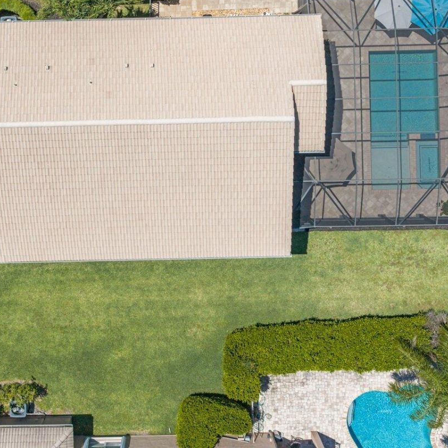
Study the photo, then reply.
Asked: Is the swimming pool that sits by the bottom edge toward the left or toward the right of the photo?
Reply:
right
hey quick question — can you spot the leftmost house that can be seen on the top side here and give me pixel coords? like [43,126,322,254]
[0,12,328,265]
